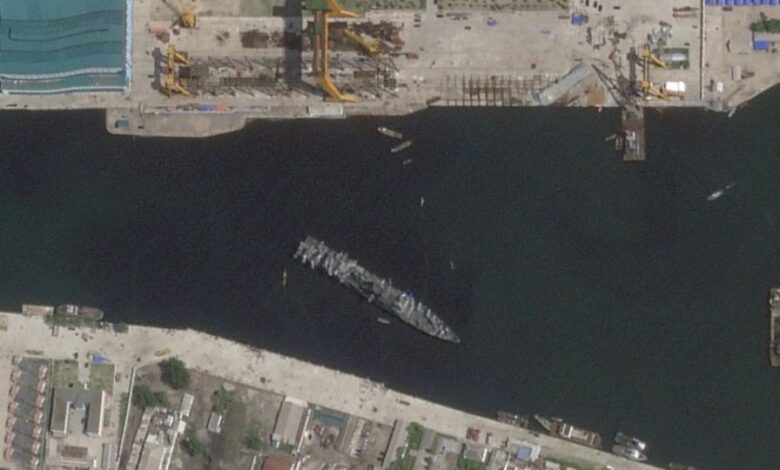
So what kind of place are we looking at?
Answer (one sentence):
It's a port.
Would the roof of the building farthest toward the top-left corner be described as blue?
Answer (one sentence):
Yes, the roof of the building farthest toward the top-left corner is blue.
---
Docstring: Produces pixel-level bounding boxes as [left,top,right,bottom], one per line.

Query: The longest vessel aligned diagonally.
[294,240,459,344]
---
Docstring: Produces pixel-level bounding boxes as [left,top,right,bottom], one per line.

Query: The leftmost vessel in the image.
[21,303,54,315]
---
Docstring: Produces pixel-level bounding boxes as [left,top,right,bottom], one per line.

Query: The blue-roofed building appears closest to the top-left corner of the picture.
[0,0,133,94]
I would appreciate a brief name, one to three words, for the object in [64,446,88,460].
building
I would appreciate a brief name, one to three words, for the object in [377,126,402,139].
boat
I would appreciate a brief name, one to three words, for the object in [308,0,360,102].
container crane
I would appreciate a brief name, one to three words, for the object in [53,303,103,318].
ship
